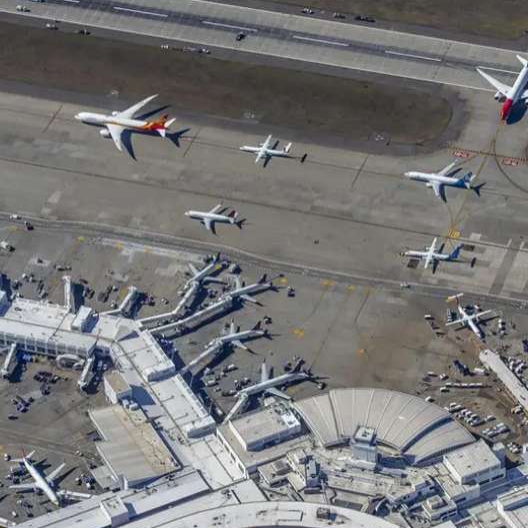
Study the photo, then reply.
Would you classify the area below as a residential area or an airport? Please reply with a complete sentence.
It's an airport.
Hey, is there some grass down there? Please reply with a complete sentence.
Yes, grass can be seen from above here.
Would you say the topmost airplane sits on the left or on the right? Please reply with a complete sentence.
It is on the right.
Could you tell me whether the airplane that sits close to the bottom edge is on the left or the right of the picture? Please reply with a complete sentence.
The airplane that sits close to the bottom edge sits on the left side.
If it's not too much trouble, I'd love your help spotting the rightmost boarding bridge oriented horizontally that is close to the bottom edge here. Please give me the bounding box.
[55,489,94,503]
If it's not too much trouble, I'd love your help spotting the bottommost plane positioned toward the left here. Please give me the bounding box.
[6,448,67,507]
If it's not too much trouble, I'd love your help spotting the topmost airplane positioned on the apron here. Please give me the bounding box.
[476,56,528,120]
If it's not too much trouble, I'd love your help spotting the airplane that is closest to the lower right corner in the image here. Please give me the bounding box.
[445,294,492,338]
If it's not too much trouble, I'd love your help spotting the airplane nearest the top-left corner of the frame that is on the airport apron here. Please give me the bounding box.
[78,96,180,151]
